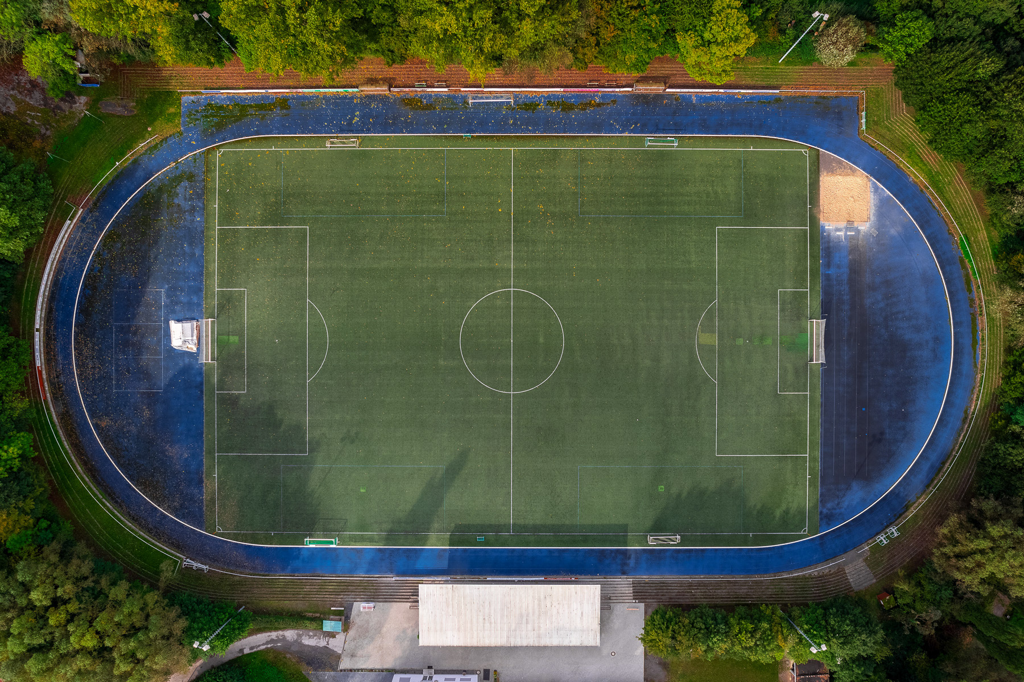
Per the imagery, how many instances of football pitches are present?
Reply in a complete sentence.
The photo contains exactly 1 football pitch.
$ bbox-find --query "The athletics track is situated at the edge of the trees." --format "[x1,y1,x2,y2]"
[46,94,978,574]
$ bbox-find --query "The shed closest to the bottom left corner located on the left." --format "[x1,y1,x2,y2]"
[321,613,345,633]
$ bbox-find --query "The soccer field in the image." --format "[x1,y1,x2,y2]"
[204,136,820,546]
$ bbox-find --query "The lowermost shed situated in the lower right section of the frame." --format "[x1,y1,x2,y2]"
[786,652,830,682]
